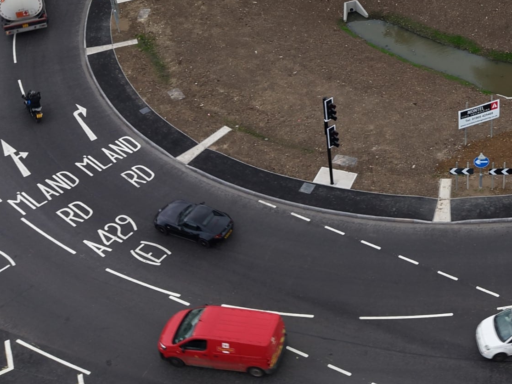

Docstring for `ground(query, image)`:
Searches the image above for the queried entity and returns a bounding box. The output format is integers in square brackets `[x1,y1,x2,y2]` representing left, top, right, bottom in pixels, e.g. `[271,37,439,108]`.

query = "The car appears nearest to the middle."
[150,198,237,247]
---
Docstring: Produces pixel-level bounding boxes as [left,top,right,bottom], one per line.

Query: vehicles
[0,0,47,33]
[478,305,512,362]
[150,198,237,247]
[18,89,40,120]
[159,305,292,378]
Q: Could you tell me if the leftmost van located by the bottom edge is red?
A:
Yes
